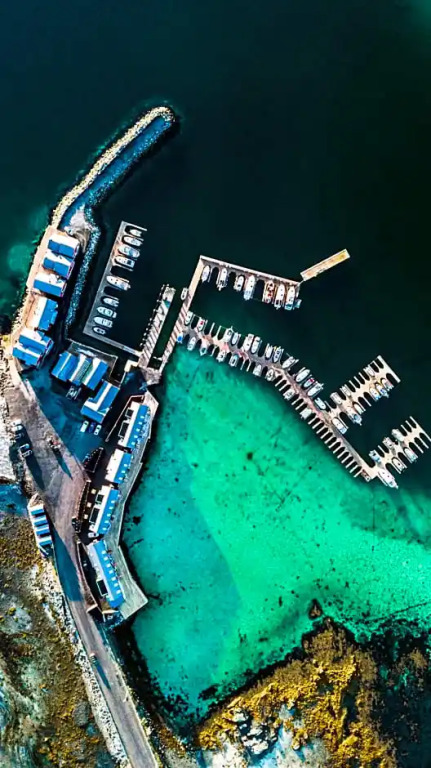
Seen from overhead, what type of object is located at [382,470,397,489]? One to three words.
boat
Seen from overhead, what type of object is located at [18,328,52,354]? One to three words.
house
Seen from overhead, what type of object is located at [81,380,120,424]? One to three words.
building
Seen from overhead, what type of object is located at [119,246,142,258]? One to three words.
boat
